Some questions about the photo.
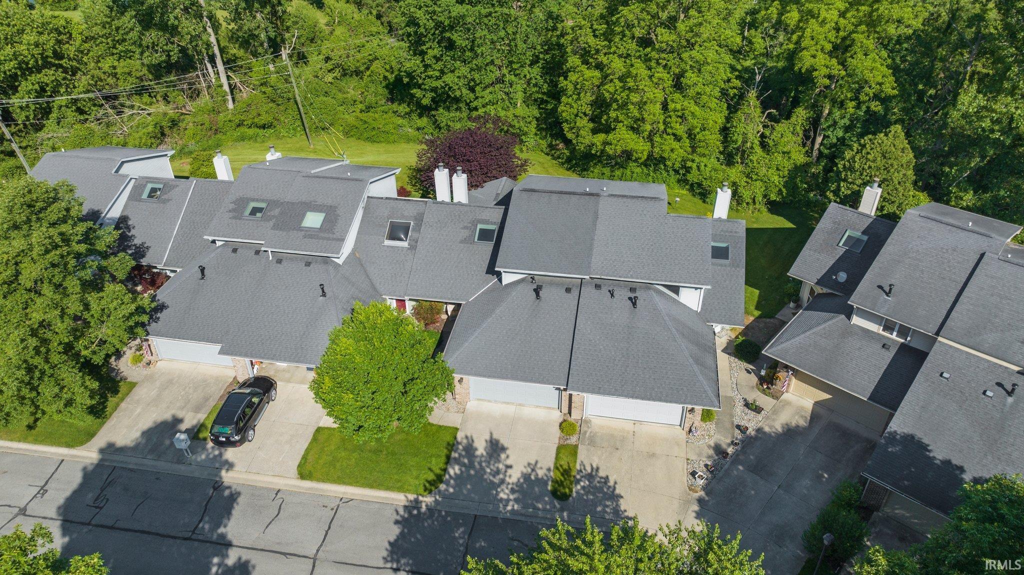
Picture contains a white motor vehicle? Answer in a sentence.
No, no white motor vehicle can be seen from above.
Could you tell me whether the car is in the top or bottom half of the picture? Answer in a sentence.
You can find the car in the bottom half.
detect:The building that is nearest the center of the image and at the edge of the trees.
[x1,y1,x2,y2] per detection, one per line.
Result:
[409,159,745,428]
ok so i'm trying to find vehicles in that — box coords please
[208,379,275,448]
